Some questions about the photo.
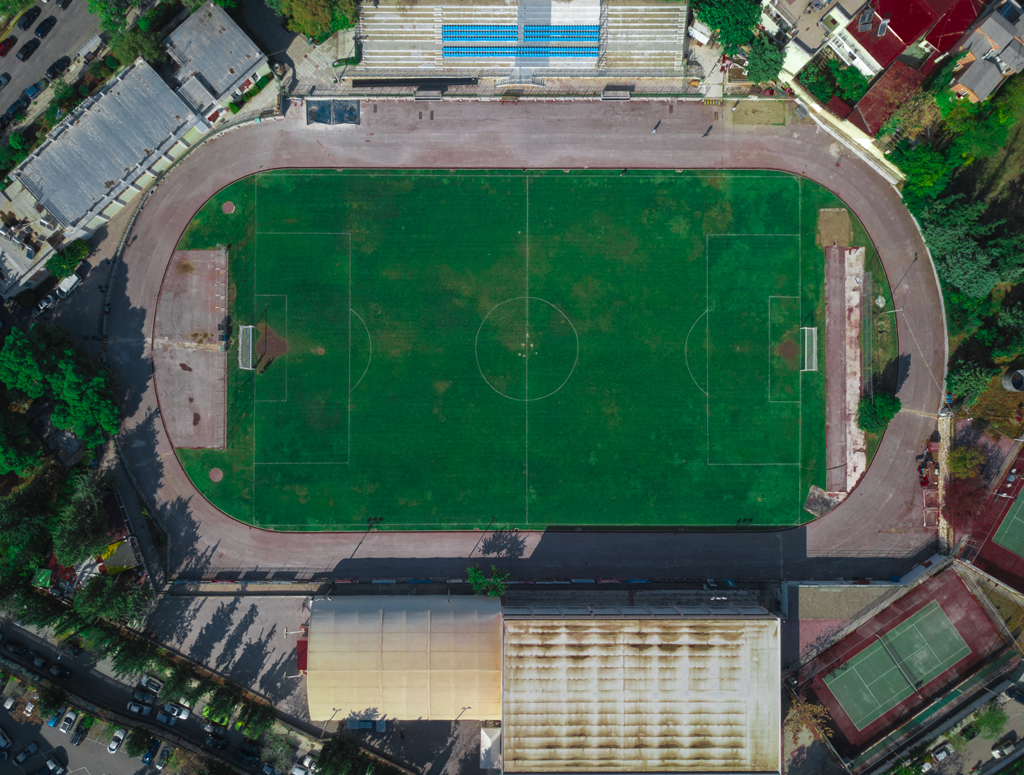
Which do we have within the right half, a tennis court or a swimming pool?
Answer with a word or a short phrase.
tennis court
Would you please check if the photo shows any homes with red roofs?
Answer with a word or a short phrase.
Yes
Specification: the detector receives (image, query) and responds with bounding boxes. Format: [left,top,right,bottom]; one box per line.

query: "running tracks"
[104,99,946,581]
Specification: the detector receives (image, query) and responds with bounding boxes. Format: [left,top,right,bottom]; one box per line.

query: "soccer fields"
[152,168,898,532]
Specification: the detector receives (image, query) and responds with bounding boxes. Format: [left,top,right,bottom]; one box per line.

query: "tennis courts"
[968,460,1024,593]
[796,571,1011,750]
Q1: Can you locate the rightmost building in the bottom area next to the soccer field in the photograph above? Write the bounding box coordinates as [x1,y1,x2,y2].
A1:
[503,600,781,773]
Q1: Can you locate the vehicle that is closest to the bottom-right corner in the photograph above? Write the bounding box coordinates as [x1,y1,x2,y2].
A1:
[993,742,1017,761]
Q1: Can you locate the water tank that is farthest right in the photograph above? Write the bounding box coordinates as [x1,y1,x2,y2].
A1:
[988,370,1024,392]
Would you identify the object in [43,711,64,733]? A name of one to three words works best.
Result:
car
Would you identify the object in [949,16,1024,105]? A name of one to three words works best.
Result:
house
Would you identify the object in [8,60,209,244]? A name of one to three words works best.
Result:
building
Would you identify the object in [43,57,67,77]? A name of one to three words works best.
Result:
car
